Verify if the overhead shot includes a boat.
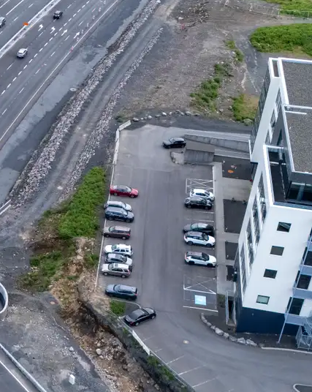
No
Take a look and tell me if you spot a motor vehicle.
Yes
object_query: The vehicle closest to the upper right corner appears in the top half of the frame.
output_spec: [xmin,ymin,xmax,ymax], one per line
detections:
[161,135,187,147]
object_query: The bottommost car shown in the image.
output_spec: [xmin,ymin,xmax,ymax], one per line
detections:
[122,309,157,326]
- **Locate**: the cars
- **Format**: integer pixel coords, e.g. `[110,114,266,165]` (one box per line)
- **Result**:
[106,207,134,223]
[190,186,215,200]
[104,241,134,257]
[101,261,131,277]
[184,193,213,209]
[111,185,138,199]
[185,250,216,267]
[104,198,133,213]
[105,282,138,299]
[185,230,215,247]
[16,48,27,58]
[0,15,6,27]
[104,251,133,266]
[161,135,187,147]
[122,309,157,326]
[184,222,214,237]
[102,226,133,240]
